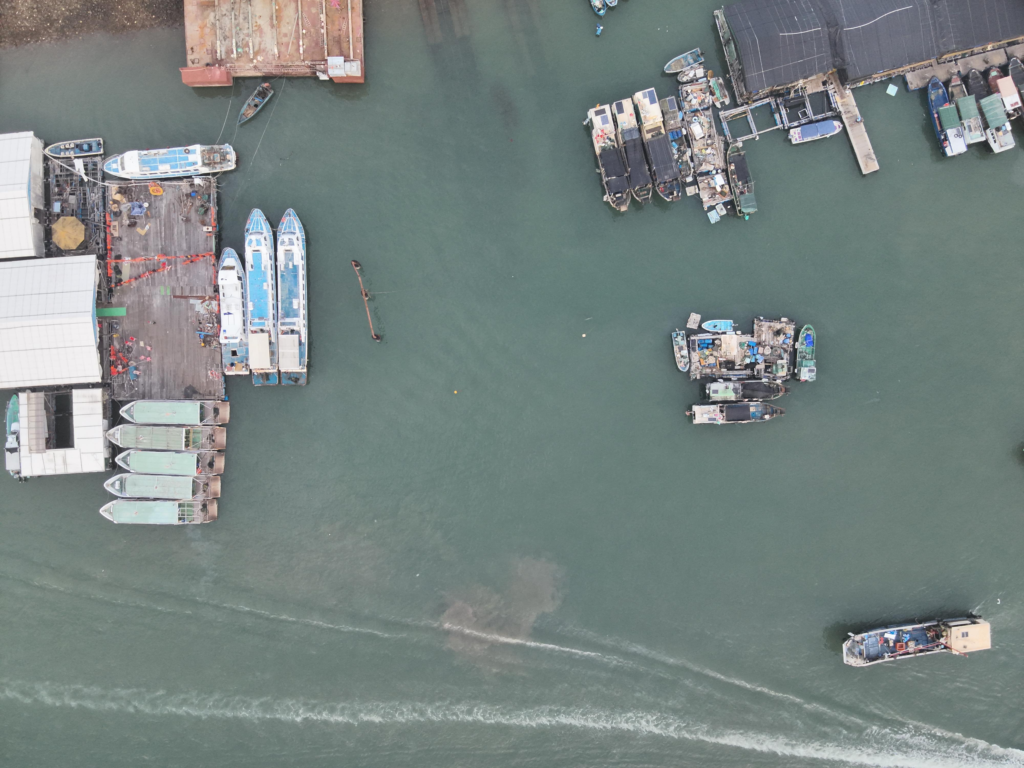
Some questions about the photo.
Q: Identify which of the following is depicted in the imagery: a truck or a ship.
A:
ship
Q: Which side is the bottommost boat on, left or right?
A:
right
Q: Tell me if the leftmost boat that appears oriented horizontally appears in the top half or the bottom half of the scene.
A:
top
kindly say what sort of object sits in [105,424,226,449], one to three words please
ship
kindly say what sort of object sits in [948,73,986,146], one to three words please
boat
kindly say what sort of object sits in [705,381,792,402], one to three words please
boat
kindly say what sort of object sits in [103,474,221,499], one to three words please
ship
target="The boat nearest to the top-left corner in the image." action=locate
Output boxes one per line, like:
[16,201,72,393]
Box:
[46,137,104,157]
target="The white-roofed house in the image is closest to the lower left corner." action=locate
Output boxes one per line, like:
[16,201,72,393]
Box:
[18,388,117,476]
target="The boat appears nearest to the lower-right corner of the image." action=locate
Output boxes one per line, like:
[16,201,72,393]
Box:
[840,612,991,667]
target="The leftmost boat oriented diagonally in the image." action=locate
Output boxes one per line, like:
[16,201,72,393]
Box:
[237,82,274,124]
